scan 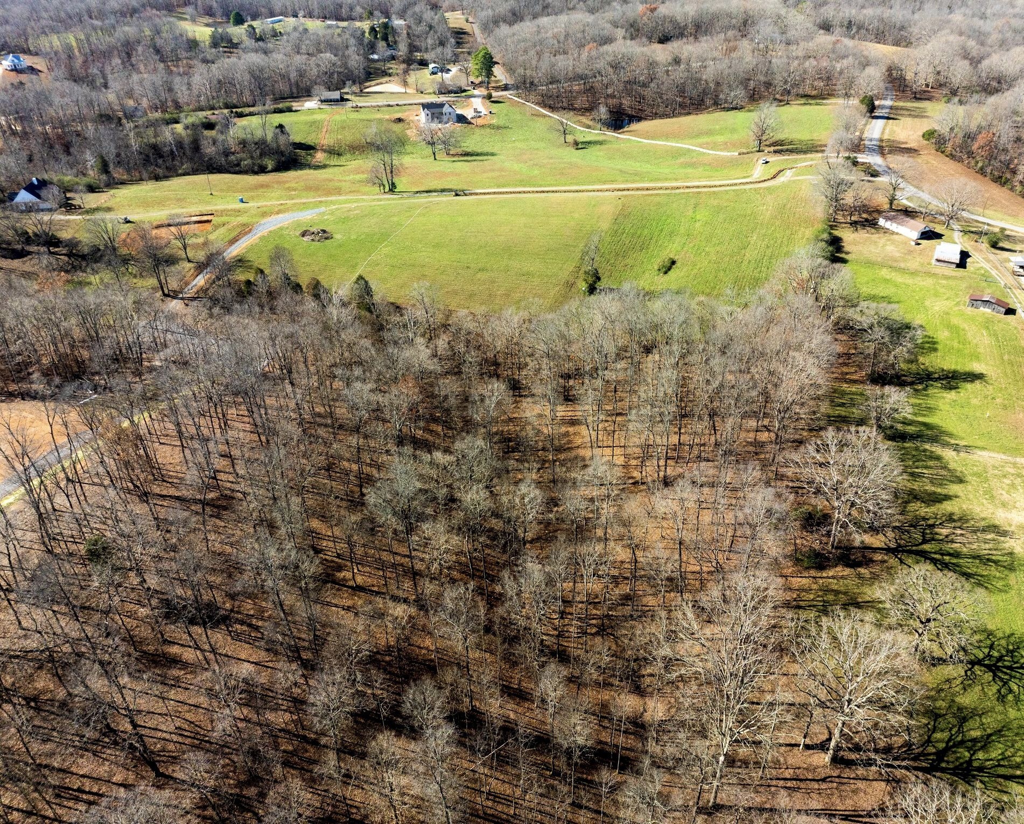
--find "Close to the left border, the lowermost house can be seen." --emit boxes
[1,173,68,213]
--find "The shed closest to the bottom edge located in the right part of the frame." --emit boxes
[967,293,1012,315]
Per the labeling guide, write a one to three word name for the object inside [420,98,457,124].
house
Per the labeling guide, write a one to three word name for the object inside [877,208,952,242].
building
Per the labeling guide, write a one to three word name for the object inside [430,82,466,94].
house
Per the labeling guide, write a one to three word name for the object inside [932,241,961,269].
barn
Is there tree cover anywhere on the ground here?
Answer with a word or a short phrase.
Yes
